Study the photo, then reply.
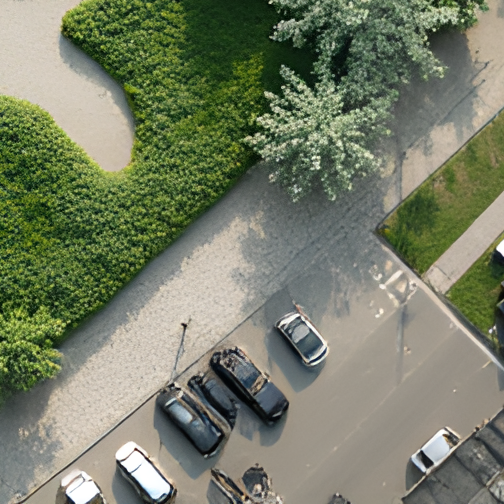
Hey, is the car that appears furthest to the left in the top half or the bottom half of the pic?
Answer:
bottom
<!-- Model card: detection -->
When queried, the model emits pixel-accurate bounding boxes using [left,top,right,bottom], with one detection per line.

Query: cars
[67,466,117,504]
[158,379,230,463]
[274,306,330,371]
[188,370,240,427]
[406,425,460,476]
[116,435,177,504]
[212,341,287,429]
